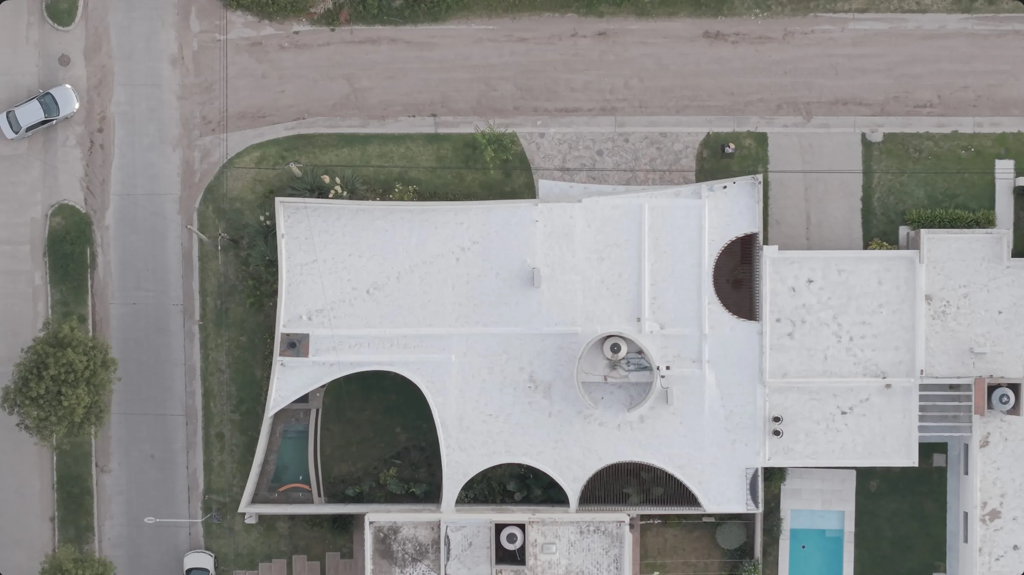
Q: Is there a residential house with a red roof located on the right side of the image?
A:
No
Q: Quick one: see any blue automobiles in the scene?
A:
No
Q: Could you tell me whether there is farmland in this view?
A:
No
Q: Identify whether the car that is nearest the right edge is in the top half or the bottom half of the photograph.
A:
bottom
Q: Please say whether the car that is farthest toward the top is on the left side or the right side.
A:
left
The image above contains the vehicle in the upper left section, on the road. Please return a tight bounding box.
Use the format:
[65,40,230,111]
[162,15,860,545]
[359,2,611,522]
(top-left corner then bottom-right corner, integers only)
[0,83,77,138]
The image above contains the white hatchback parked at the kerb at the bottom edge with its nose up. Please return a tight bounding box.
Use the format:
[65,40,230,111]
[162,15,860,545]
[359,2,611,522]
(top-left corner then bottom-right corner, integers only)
[181,549,218,575]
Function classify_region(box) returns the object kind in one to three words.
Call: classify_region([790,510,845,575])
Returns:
swimming pool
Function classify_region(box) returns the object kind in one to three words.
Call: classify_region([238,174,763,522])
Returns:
house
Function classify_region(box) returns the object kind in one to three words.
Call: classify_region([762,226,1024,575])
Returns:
house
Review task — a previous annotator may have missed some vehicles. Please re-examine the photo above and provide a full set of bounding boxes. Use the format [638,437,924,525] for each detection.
[0,83,77,138]
[181,549,218,575]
